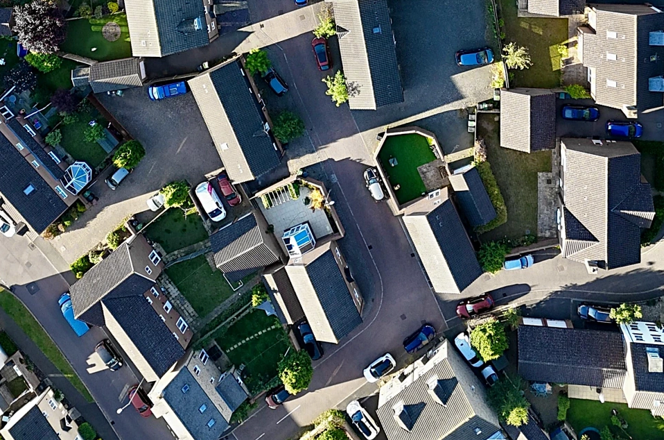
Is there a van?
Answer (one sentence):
Yes, there is a van in the image.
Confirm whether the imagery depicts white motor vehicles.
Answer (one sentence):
Yes, I can see a white motor vehicle in this picture.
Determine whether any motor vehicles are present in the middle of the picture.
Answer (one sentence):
Yes, a motor vehicle appears in the middle of the picture.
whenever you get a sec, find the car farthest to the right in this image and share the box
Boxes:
[605,119,642,139]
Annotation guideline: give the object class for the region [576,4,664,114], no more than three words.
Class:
house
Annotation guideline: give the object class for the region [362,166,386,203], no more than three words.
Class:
car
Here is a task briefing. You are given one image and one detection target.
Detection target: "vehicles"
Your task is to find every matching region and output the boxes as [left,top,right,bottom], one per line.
[147,79,190,101]
[216,171,241,207]
[0,206,13,237]
[263,382,291,409]
[559,103,603,123]
[126,382,153,417]
[61,294,89,332]
[138,188,169,213]
[97,335,121,371]
[457,293,494,317]
[296,324,323,362]
[451,327,482,371]
[573,300,616,324]
[195,179,227,222]
[453,47,495,66]
[605,119,642,139]
[104,165,132,192]
[402,320,437,352]
[362,166,386,203]
[347,397,379,439]
[362,351,398,381]
[503,250,537,272]
[262,61,291,102]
